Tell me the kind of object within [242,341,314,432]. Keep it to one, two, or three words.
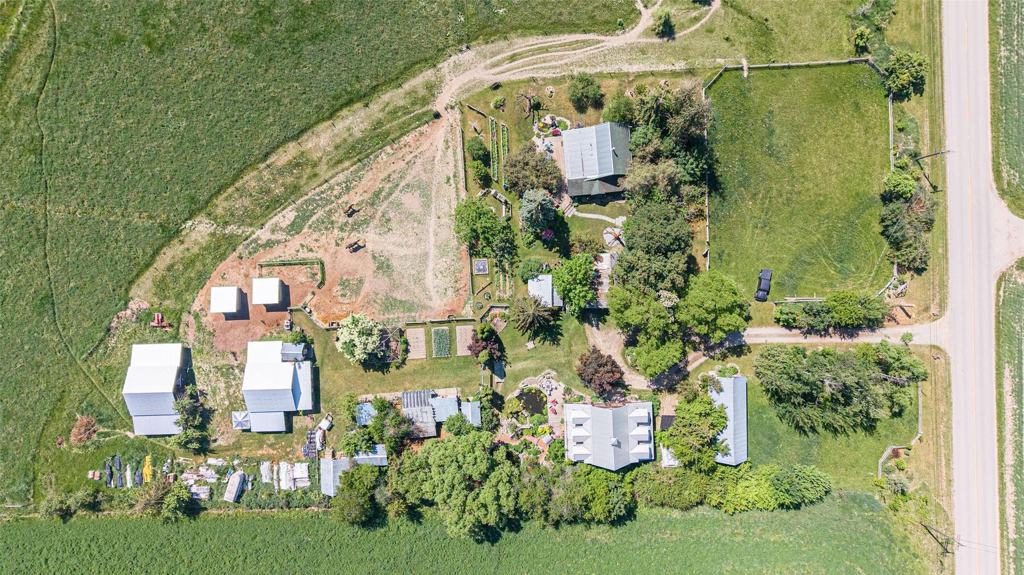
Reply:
barn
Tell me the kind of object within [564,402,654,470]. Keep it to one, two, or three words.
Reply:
house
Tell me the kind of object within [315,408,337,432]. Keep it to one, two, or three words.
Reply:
truck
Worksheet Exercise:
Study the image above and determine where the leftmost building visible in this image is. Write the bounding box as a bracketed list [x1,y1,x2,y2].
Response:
[122,343,186,435]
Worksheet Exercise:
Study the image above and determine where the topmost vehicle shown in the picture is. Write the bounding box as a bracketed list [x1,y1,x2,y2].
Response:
[755,270,771,300]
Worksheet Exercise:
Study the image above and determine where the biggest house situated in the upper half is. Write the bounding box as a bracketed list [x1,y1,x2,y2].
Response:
[561,121,633,198]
